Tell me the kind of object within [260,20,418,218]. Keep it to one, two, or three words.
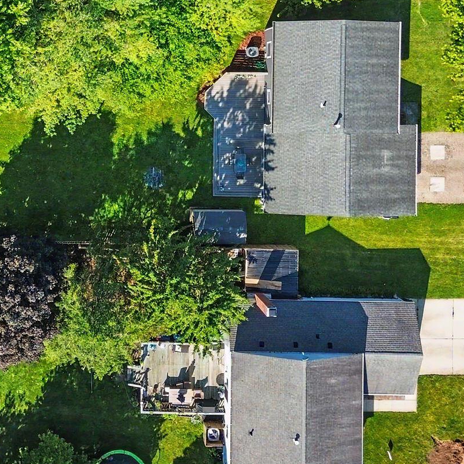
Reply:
house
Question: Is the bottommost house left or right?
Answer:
right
